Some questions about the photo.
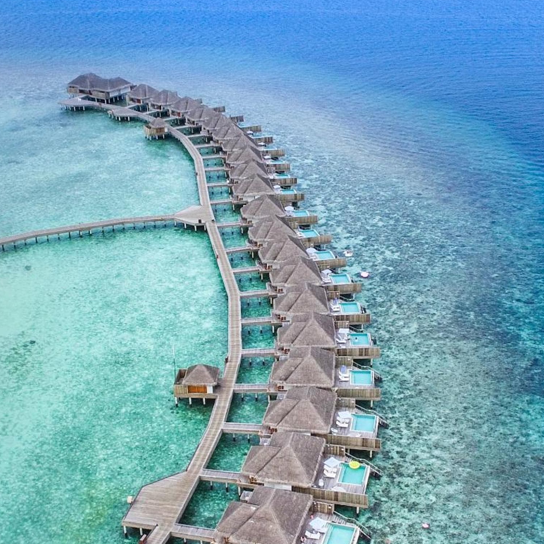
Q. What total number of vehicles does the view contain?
none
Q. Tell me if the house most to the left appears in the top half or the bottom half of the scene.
top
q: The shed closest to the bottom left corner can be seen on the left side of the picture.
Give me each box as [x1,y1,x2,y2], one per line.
[170,352,222,415]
